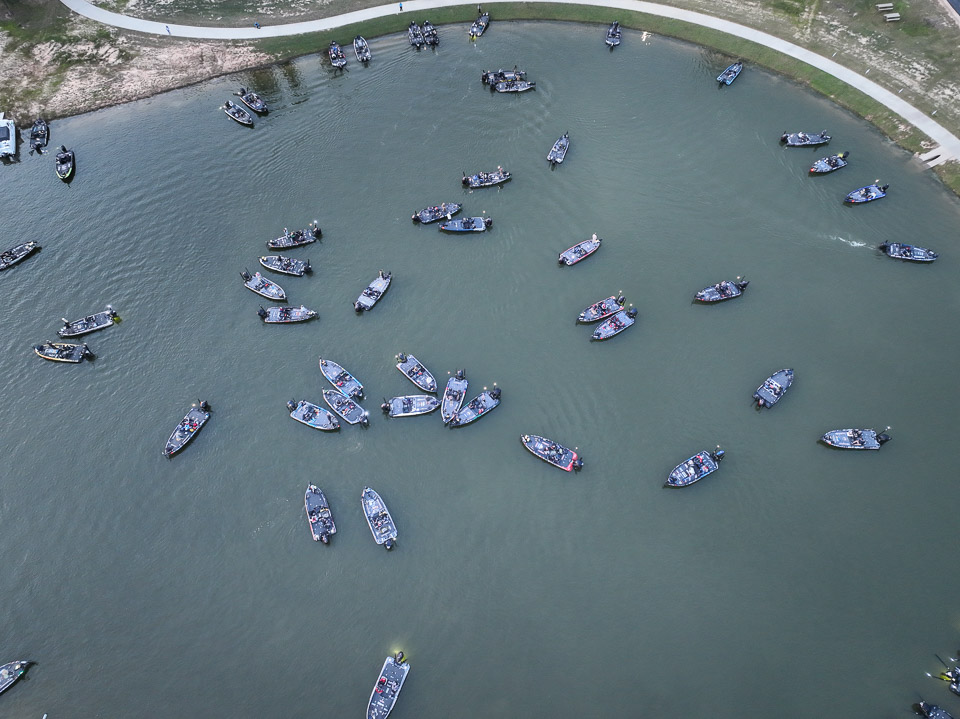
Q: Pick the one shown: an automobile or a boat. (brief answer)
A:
boat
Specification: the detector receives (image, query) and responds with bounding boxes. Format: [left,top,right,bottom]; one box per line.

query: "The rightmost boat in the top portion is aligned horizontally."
[884,243,938,262]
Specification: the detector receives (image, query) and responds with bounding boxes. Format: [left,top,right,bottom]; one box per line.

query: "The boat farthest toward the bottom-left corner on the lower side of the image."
[0,657,32,692]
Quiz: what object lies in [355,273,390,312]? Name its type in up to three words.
boat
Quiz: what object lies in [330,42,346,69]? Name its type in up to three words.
boat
